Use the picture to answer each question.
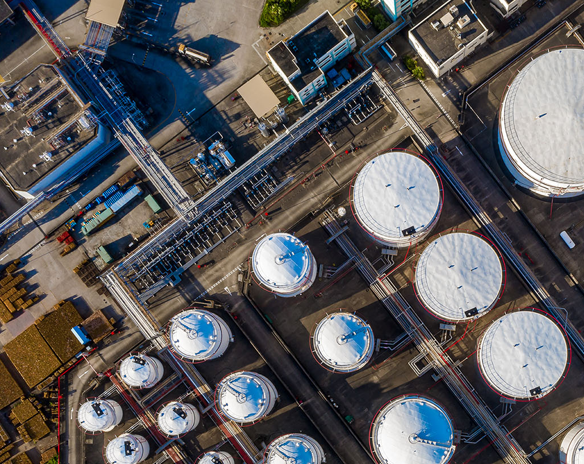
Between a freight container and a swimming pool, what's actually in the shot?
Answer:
freight container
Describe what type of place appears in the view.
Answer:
industrial area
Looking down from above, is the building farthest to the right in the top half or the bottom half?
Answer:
top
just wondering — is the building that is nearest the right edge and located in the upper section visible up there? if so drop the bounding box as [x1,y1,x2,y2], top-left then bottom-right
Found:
[486,0,524,21]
